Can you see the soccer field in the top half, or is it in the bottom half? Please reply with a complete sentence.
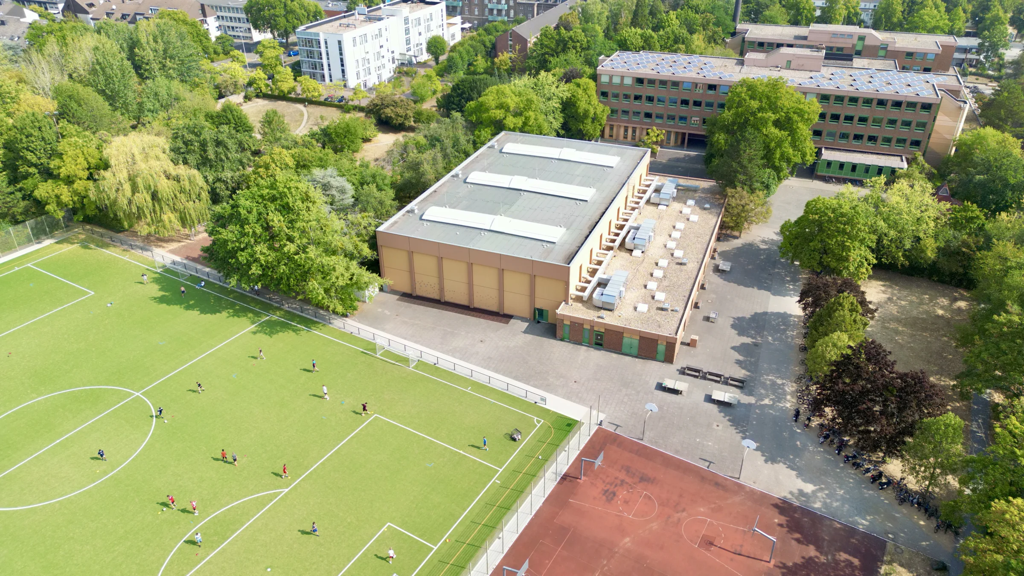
You can find the soccer field in the bottom half.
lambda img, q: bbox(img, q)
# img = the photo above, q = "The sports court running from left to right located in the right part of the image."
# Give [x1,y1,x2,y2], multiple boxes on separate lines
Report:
[490,426,888,576]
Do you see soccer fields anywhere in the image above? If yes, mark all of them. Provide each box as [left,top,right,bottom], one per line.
[0,232,580,576]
